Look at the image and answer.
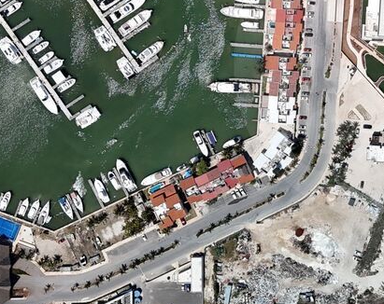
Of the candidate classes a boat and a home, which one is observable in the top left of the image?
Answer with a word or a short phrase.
boat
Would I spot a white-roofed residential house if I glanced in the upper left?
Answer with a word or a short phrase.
No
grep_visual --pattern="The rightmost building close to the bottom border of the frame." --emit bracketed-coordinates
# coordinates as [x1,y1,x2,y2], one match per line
[177,254,206,292]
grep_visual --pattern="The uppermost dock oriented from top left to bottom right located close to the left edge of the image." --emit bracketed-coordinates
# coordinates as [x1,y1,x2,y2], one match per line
[0,13,74,121]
